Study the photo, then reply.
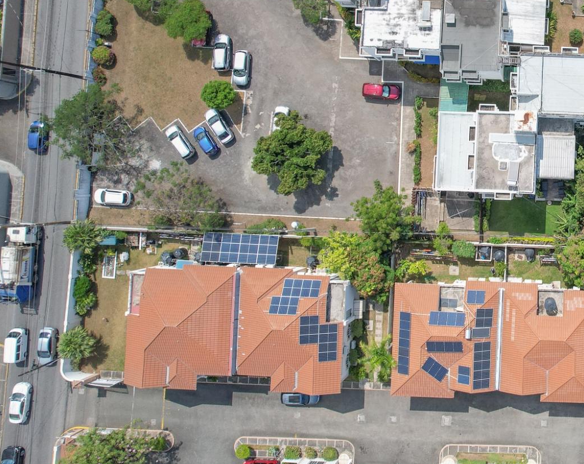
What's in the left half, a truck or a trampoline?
truck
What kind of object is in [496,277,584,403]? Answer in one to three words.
house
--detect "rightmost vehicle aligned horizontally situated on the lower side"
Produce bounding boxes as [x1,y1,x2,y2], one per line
[282,390,321,410]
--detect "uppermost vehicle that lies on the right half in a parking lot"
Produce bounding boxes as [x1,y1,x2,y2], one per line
[363,82,402,101]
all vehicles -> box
[2,442,25,464]
[164,123,197,161]
[282,390,321,410]
[96,190,131,207]
[213,36,233,70]
[28,120,50,154]
[36,326,60,366]
[10,381,34,423]
[273,105,289,120]
[1,229,41,312]
[193,125,222,158]
[232,52,251,85]
[2,325,29,367]
[243,457,282,464]
[204,109,236,146]
[363,82,402,101]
